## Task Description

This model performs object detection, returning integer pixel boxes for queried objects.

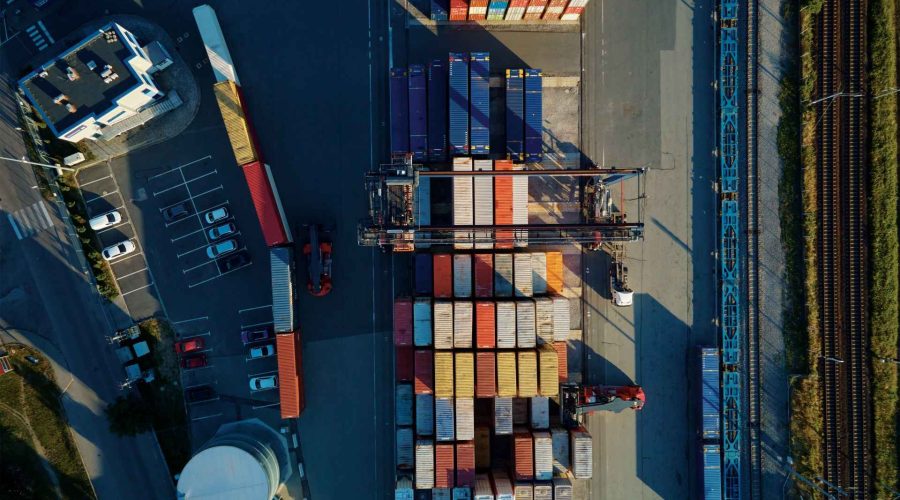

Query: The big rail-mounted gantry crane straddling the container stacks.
[355,150,652,251]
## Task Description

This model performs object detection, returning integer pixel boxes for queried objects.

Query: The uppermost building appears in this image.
[19,22,182,145]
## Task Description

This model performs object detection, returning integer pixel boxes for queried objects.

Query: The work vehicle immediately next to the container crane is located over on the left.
[294,221,338,295]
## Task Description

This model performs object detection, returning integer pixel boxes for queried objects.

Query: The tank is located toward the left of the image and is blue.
[172,418,293,500]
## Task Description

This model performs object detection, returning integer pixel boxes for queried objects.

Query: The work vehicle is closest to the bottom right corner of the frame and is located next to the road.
[568,380,645,424]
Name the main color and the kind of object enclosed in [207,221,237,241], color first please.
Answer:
blue car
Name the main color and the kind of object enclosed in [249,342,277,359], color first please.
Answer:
blue car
